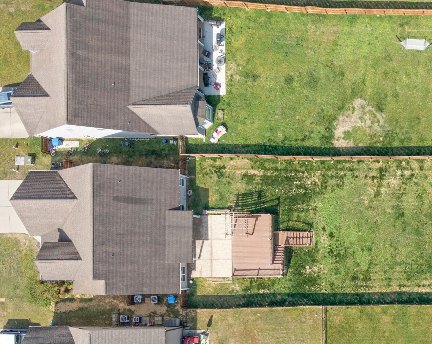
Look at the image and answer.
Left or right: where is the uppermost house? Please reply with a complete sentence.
The uppermost house is on the left side of the image.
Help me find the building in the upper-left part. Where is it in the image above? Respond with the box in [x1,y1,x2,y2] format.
[10,0,212,142]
